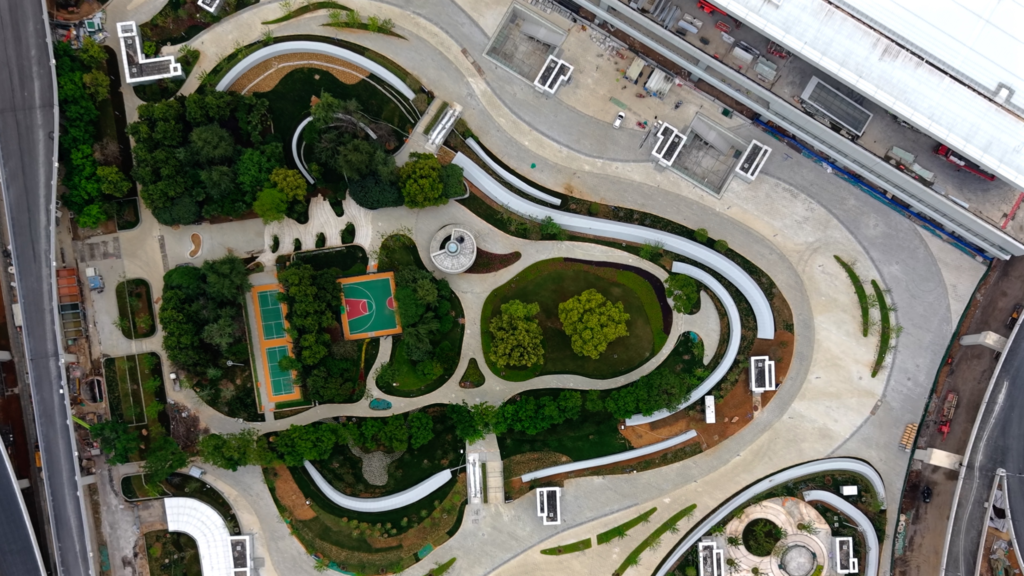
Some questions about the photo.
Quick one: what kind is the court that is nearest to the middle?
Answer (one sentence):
The court that is nearest to the middle can be classified as a basketball court.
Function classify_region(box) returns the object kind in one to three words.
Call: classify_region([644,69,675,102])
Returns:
shed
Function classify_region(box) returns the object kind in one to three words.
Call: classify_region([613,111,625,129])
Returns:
vehicle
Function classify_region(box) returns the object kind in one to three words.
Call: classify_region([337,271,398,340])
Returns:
basketball court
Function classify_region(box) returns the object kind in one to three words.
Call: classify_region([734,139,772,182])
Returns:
building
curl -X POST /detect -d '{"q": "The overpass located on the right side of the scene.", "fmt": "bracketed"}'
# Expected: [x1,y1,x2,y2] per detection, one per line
[909,302,1024,576]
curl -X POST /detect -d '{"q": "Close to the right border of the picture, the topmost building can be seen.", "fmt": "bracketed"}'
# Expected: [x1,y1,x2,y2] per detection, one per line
[703,0,1024,195]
